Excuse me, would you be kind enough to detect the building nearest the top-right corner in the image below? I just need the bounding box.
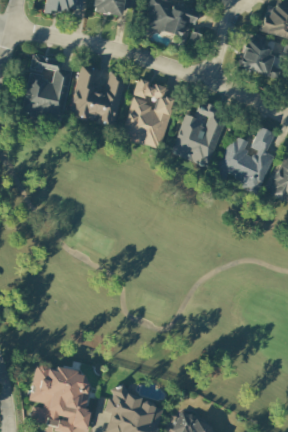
[260,4,288,40]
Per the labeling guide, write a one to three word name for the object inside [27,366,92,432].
house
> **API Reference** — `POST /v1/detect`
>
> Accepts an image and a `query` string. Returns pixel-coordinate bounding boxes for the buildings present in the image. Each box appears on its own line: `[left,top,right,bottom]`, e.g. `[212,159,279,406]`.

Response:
[72,66,128,124]
[102,385,161,432]
[29,54,66,110]
[175,104,224,164]
[260,4,288,40]
[126,79,176,148]
[27,366,92,432]
[273,151,288,197]
[42,0,78,12]
[94,0,126,17]
[170,411,219,432]
[226,128,275,190]
[150,0,203,36]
